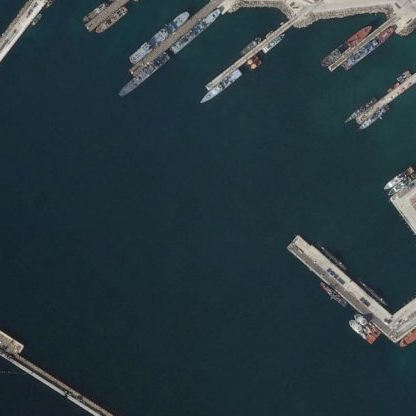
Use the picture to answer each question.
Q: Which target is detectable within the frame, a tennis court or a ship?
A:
ship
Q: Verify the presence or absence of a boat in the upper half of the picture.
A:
Yes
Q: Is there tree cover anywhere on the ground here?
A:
No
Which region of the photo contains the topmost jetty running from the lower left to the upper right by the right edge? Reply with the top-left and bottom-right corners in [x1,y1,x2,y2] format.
[327,14,400,72]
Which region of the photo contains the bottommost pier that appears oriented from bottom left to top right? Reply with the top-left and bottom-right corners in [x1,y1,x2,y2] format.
[355,74,416,125]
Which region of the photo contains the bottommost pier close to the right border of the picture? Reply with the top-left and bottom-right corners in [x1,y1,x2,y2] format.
[287,236,416,343]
